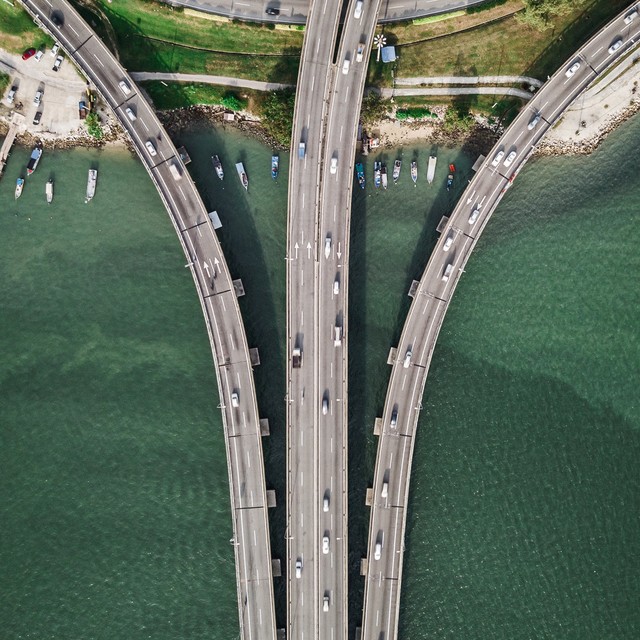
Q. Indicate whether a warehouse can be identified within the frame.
No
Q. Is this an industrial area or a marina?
marina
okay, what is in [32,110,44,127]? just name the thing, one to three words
vehicle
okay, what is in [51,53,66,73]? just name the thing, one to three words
vehicle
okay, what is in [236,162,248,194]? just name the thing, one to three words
boat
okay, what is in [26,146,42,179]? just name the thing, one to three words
boat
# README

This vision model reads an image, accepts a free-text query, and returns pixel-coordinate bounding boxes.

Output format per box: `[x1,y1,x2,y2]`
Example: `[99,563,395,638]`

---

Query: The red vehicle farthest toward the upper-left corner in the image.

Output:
[21,47,38,61]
